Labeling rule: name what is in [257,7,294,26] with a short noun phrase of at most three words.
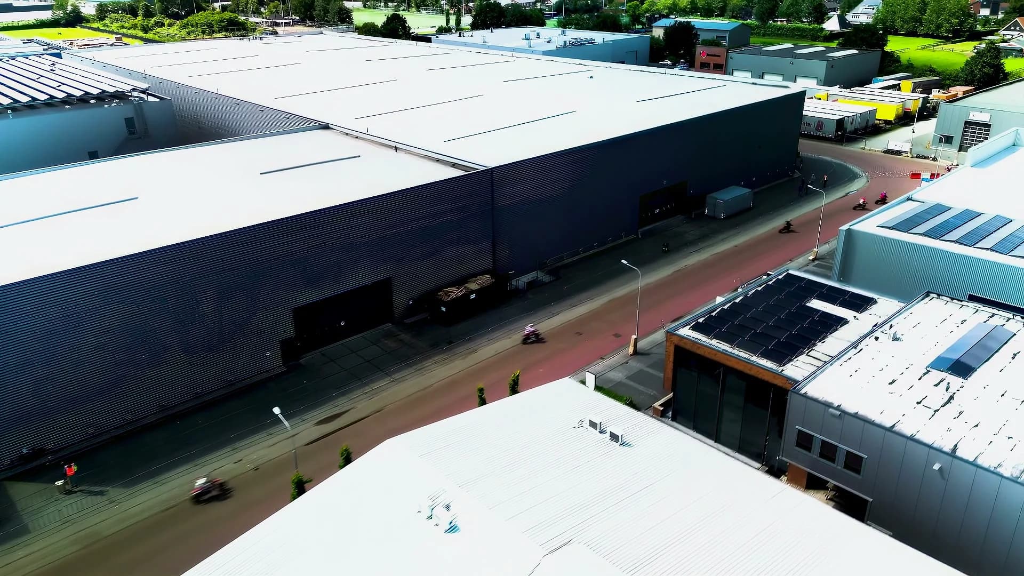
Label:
building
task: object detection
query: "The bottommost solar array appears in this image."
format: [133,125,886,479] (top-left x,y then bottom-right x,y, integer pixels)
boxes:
[692,273,876,367]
